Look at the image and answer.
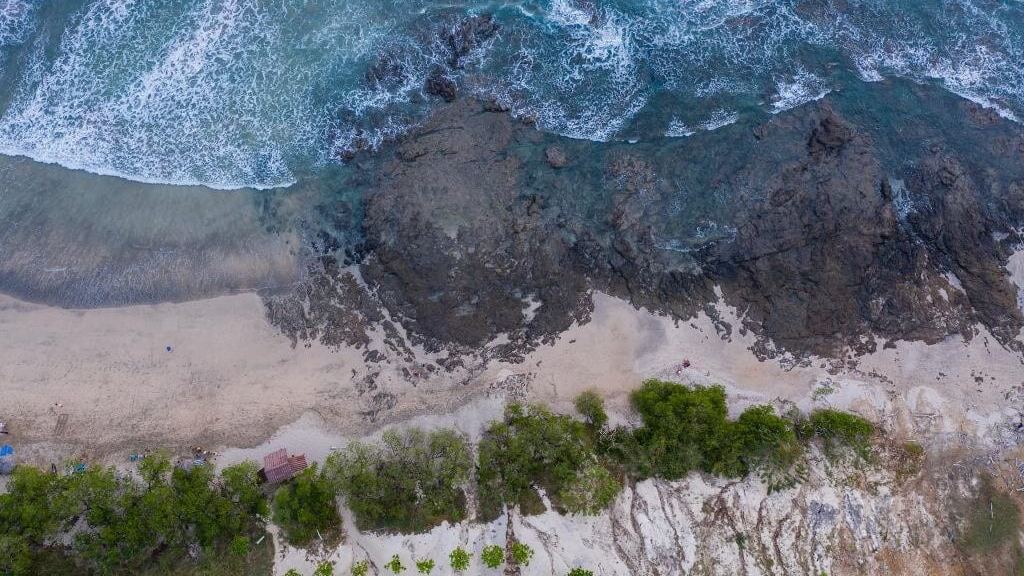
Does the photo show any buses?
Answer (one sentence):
No, there's no bus here.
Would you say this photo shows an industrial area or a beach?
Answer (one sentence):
It's a beach.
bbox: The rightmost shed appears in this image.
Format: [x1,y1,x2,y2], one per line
[261,447,308,484]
